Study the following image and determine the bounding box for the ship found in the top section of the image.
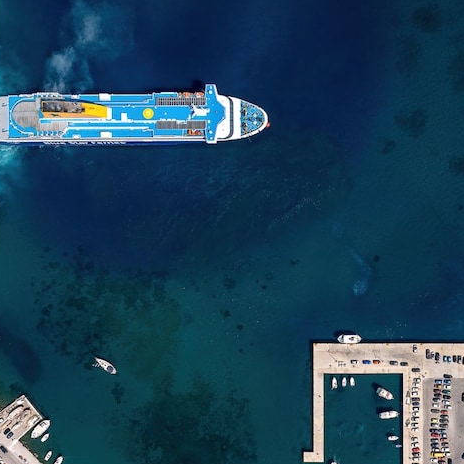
[0,83,272,146]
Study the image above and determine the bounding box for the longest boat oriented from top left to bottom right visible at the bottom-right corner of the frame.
[376,387,392,400]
